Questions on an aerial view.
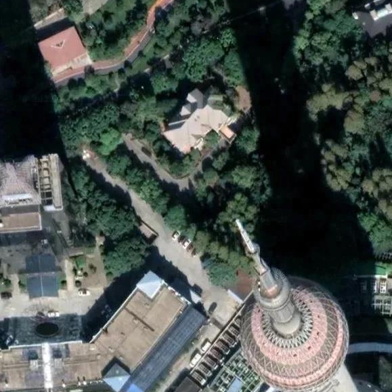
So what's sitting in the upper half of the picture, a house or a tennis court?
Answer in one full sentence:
You can see a house in the upper half of the picture.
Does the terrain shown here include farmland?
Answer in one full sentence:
No, there is no farmland in the image.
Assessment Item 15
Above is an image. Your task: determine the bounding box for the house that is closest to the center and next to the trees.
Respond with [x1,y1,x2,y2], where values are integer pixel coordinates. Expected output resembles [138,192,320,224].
[164,92,233,152]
